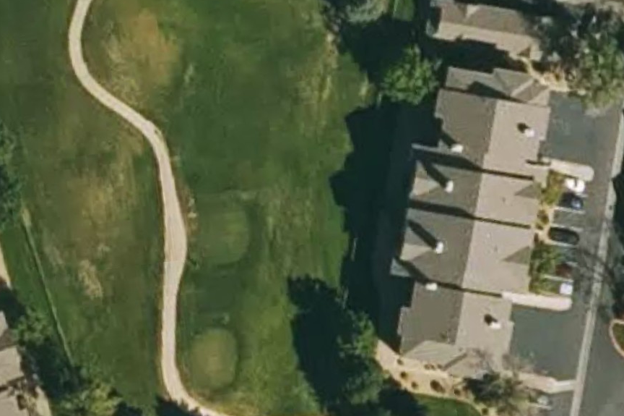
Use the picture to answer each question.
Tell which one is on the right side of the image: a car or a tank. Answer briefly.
car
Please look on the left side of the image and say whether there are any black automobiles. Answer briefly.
No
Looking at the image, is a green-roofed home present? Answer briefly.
No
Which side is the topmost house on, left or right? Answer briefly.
right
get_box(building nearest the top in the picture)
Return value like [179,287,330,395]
[432,2,540,63]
